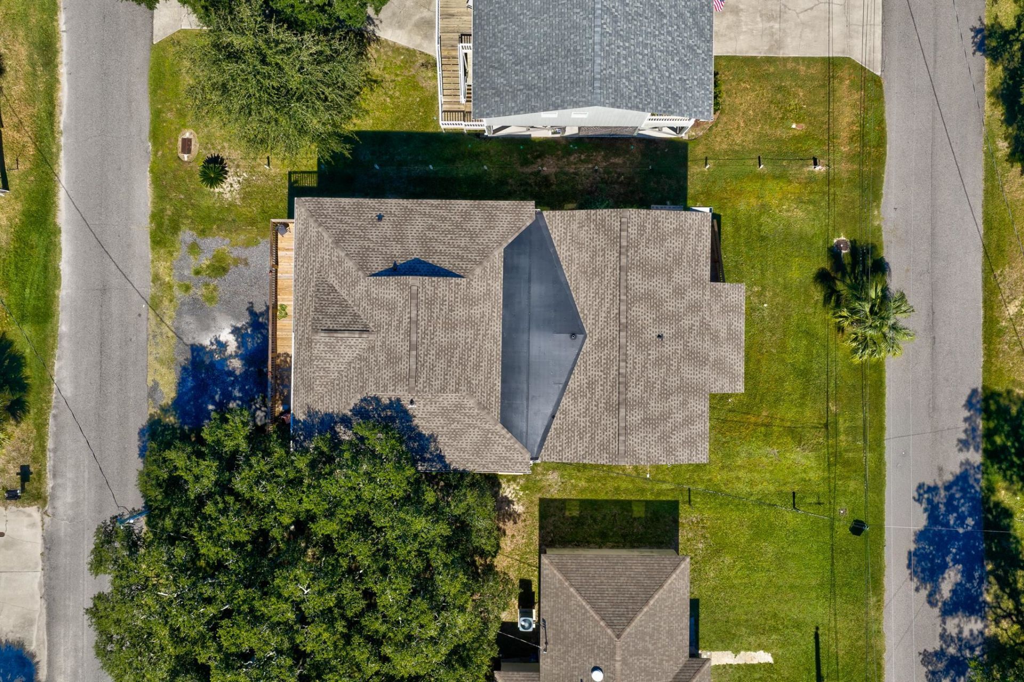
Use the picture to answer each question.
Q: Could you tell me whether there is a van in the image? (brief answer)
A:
No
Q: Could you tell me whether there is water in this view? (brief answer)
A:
No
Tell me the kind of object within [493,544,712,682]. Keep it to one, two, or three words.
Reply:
house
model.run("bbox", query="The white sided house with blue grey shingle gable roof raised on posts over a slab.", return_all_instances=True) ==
[437,0,715,139]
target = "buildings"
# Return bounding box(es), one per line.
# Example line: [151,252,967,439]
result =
[437,0,715,139]
[493,544,712,682]
[267,197,745,476]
